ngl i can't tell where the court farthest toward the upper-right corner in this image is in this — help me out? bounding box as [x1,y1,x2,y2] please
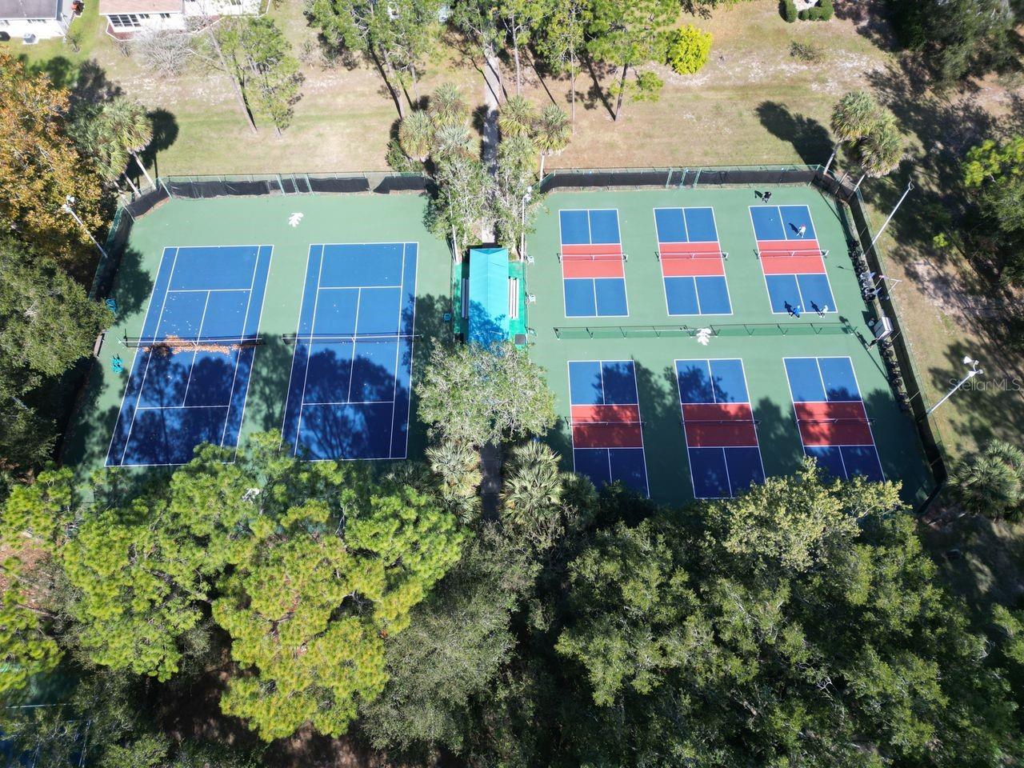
[749,205,837,313]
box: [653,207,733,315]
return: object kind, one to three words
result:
sports court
